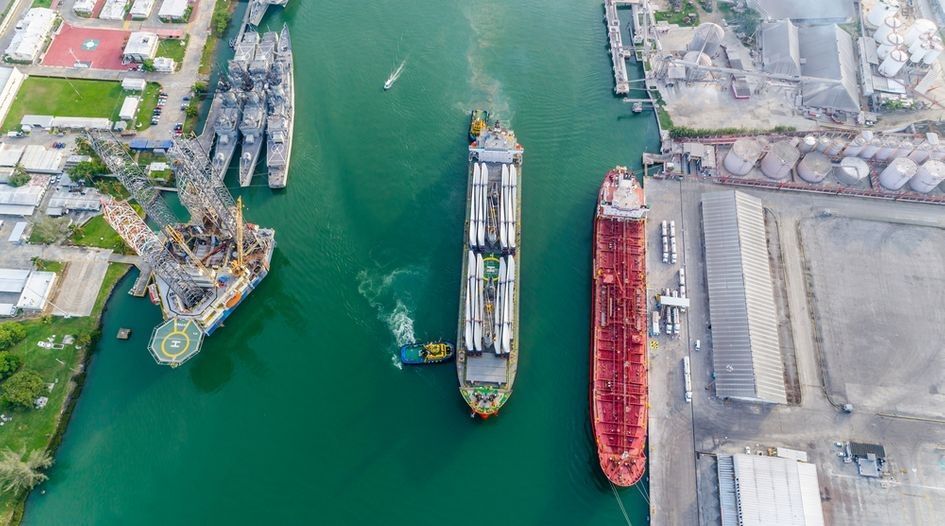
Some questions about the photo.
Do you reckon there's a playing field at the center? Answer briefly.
No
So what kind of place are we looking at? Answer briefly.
industrial area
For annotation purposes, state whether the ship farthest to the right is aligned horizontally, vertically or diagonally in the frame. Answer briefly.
vertically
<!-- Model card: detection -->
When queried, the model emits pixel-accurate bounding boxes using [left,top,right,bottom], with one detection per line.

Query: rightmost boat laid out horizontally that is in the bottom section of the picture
[400,341,455,365]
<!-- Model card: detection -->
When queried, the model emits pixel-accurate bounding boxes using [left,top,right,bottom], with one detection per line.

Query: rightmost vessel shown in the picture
[589,166,653,486]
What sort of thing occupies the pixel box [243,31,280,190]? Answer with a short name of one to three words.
ship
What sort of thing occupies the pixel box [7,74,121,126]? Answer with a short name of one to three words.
sports field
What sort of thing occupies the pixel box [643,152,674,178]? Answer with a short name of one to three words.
pier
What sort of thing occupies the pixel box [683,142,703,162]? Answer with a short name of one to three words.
building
